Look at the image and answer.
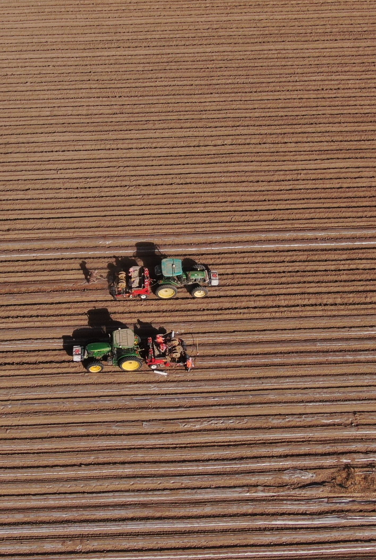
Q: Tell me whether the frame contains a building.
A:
No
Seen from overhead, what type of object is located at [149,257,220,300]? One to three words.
work vehicle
